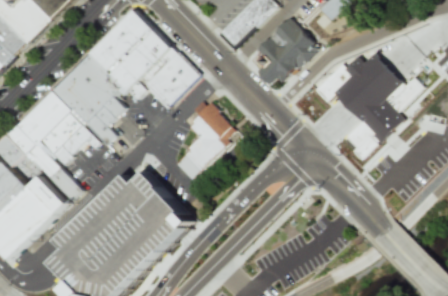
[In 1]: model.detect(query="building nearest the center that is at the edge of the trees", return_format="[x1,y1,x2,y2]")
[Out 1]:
[179,102,245,176]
